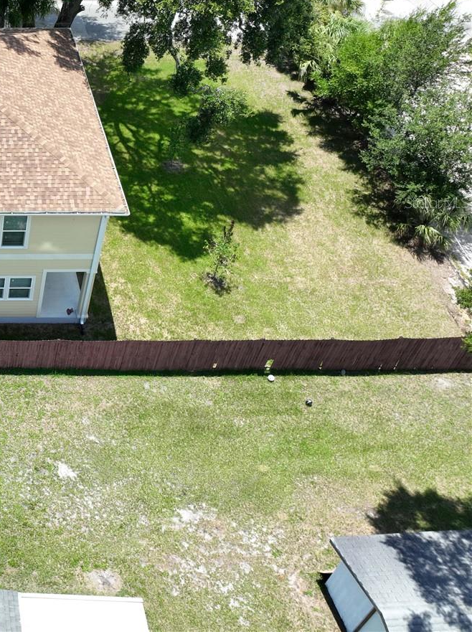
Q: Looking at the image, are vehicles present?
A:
No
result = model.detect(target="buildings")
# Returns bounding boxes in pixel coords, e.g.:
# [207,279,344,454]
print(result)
[0,590,150,632]
[318,533,472,632]
[0,28,133,341]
